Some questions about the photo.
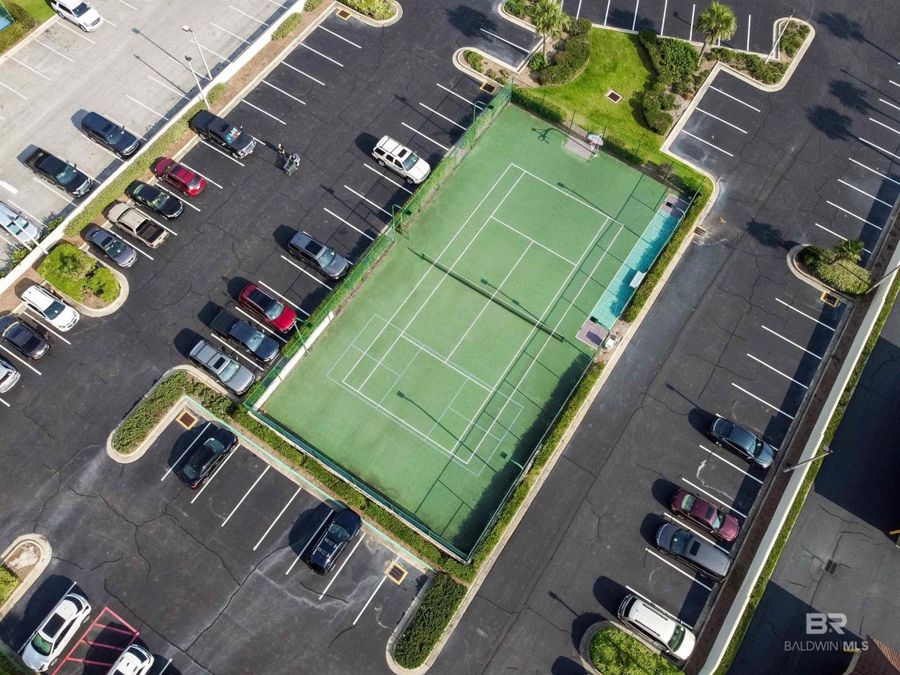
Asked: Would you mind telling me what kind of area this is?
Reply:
parking lot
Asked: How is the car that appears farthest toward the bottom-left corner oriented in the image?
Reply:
on a diagonal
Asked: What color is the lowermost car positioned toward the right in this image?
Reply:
white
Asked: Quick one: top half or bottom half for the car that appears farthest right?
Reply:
bottom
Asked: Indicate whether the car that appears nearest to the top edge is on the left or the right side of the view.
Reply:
left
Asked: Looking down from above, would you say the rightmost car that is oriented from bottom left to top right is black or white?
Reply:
black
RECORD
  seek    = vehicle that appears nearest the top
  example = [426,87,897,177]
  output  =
[50,0,105,35]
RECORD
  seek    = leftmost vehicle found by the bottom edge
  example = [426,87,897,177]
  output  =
[22,592,95,673]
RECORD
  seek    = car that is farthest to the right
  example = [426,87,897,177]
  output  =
[703,417,771,470]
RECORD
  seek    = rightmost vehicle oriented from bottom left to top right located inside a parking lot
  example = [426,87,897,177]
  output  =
[300,507,363,582]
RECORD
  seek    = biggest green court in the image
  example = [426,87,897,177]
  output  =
[258,103,691,562]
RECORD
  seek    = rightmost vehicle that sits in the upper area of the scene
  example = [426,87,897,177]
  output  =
[370,135,430,183]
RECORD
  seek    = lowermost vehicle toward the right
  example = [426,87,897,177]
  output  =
[616,592,694,661]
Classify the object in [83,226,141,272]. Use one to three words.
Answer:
car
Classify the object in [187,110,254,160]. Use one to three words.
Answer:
truck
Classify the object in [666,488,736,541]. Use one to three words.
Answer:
car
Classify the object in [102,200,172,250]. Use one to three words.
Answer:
truck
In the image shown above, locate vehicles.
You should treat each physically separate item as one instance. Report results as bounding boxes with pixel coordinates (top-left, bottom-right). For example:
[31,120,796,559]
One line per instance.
[152,158,207,200]
[78,108,140,156]
[0,310,53,361]
[616,592,694,661]
[83,226,141,272]
[666,488,736,541]
[370,135,430,183]
[178,426,239,490]
[102,200,172,250]
[187,338,256,394]
[238,283,299,332]
[703,417,771,470]
[22,592,95,673]
[50,0,105,35]
[300,507,363,582]
[287,231,348,280]
[24,146,94,199]
[126,178,183,221]
[187,110,254,160]
[19,285,83,335]
[652,522,731,582]
[208,306,280,363]
[0,350,27,390]
[103,641,153,675]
